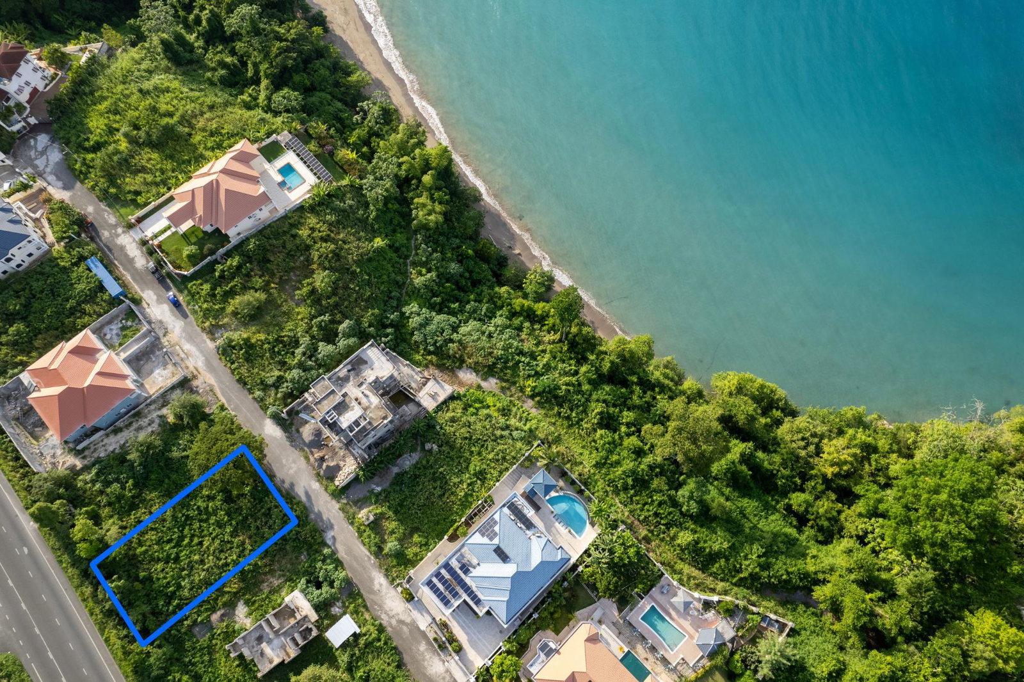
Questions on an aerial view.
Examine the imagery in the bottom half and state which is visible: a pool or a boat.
pool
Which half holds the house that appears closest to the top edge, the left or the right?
left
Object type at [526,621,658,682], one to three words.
house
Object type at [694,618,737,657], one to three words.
building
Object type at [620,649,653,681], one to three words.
swimming pool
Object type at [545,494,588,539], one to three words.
swimming pool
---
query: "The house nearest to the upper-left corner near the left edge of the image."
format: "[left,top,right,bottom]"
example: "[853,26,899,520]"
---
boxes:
[0,41,58,122]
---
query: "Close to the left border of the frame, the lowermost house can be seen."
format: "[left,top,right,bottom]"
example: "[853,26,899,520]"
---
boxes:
[20,328,151,442]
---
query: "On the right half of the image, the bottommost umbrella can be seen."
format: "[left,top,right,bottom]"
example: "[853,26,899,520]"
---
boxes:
[670,588,694,614]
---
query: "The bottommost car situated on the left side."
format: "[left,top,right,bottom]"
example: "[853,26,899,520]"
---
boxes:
[164,291,180,307]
